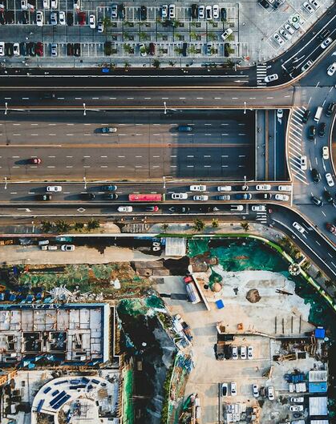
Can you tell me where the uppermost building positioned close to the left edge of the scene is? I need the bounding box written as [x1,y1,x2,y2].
[0,302,113,364]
